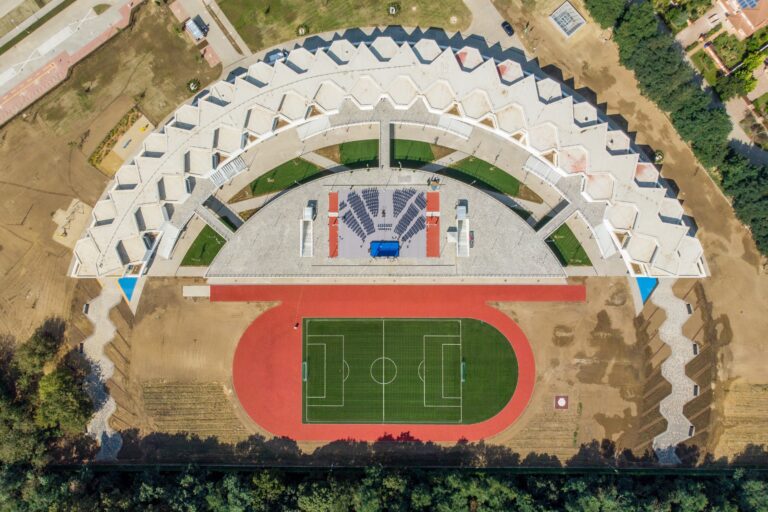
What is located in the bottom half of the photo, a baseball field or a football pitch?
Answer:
football pitch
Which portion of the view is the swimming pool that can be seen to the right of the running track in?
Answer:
right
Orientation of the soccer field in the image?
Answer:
from side to side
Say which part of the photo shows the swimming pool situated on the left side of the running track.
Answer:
left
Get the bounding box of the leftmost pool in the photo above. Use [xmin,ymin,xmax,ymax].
[117,278,137,300]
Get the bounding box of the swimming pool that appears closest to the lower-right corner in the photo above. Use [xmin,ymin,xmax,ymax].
[638,278,658,302]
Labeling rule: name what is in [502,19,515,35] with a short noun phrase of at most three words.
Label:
vehicle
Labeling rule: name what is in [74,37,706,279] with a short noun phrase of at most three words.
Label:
building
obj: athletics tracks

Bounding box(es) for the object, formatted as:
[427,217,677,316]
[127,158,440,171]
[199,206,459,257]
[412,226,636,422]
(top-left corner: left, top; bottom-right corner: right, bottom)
[211,285,586,442]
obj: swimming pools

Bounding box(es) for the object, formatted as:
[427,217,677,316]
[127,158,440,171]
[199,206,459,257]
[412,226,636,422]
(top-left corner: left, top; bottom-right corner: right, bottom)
[117,278,137,300]
[638,278,658,302]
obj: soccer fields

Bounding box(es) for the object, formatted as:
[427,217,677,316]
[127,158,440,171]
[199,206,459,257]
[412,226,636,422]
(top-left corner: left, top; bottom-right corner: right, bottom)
[302,318,518,424]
